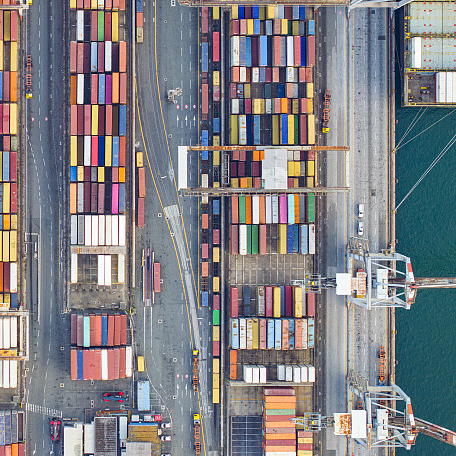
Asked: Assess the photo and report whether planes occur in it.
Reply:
No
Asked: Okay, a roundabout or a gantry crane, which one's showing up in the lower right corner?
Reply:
gantry crane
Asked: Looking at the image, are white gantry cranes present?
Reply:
Yes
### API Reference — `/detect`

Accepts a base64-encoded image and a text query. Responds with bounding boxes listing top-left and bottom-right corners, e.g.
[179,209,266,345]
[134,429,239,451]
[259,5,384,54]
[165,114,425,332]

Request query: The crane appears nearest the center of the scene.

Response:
[177,140,349,201]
